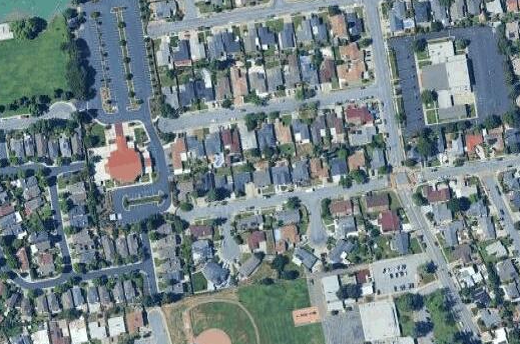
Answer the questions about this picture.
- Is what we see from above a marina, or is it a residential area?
residential area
